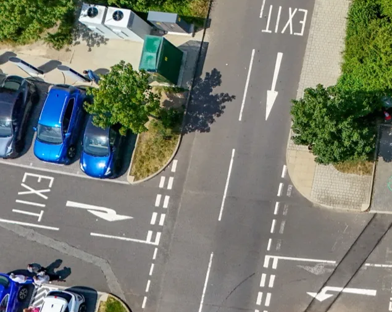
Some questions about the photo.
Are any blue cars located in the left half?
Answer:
Yes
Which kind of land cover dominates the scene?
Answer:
paved ground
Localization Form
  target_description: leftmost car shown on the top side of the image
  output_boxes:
[0,79,46,158]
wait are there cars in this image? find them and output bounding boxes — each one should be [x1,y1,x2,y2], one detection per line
[34,89,90,163]
[79,108,134,178]
[0,272,31,312]
[0,79,46,158]
[38,292,87,312]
